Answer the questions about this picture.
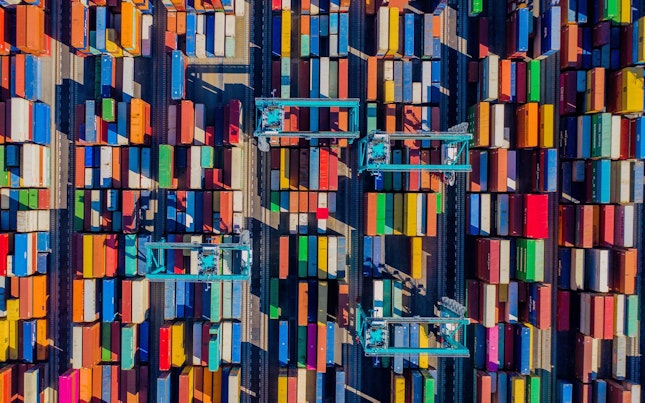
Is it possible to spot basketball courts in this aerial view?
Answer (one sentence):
No, I find no basketball court anywhere in the image.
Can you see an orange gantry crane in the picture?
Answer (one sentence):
No, I can't see a single orange gantry crane in this photo.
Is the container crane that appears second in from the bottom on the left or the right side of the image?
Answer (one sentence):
The container crane that appears second in from the bottom appears in the left half of the scene.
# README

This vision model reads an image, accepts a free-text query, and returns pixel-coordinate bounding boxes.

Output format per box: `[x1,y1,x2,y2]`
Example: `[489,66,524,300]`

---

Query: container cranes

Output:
[358,125,473,185]
[355,297,470,365]
[145,229,255,288]
[257,91,362,152]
